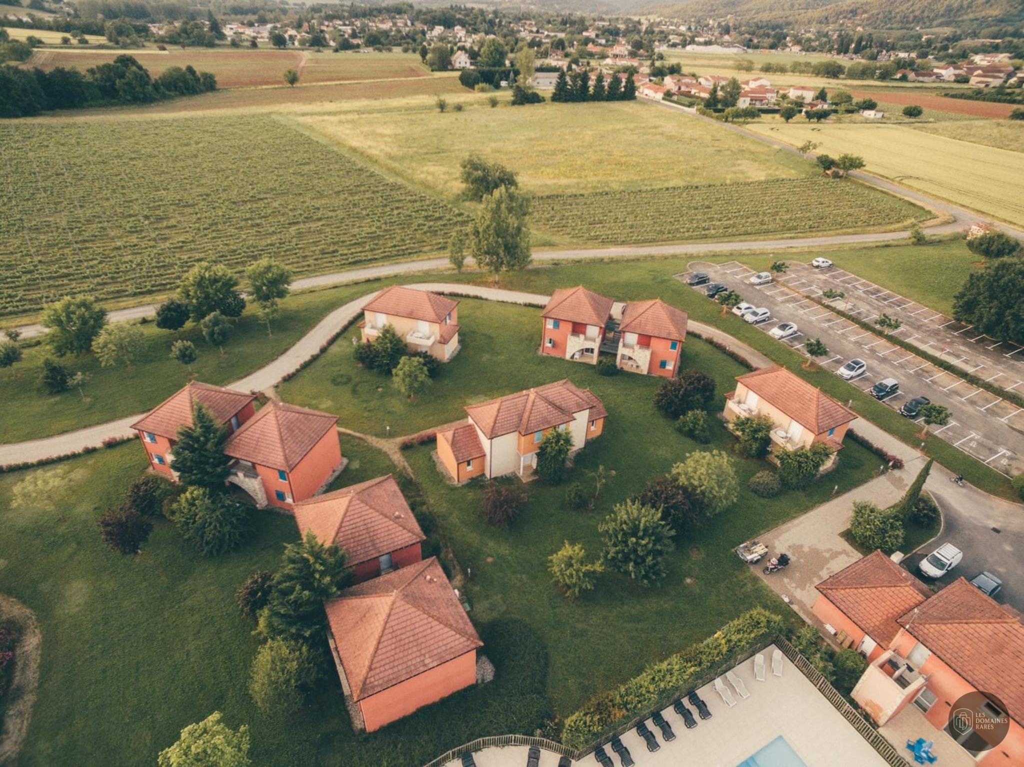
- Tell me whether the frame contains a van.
Yes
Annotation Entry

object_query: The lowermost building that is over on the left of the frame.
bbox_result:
[325,553,481,733]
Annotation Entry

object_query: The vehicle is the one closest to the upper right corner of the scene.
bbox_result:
[813,258,835,270]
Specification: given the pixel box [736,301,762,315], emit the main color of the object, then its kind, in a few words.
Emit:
white car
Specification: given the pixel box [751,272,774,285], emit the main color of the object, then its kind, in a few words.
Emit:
white vehicle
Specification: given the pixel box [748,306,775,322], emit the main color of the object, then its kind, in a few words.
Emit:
white car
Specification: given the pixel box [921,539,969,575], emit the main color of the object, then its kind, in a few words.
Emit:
white van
